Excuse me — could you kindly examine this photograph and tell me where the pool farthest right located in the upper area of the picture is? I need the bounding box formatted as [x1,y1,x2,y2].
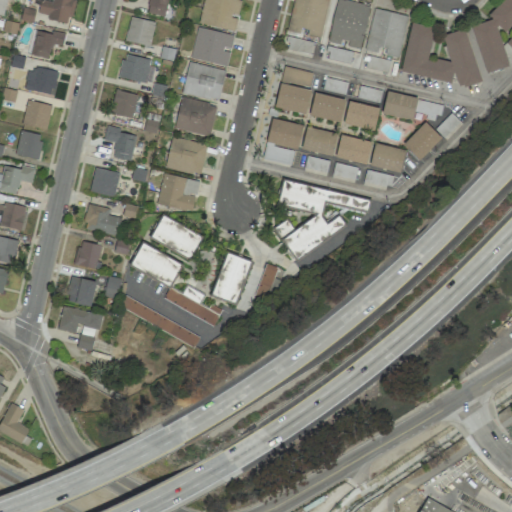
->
[382,124,404,140]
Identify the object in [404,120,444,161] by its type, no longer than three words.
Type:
building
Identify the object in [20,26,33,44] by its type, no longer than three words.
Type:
swimming pool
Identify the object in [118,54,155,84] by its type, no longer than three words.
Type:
house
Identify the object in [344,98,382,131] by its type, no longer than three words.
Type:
building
